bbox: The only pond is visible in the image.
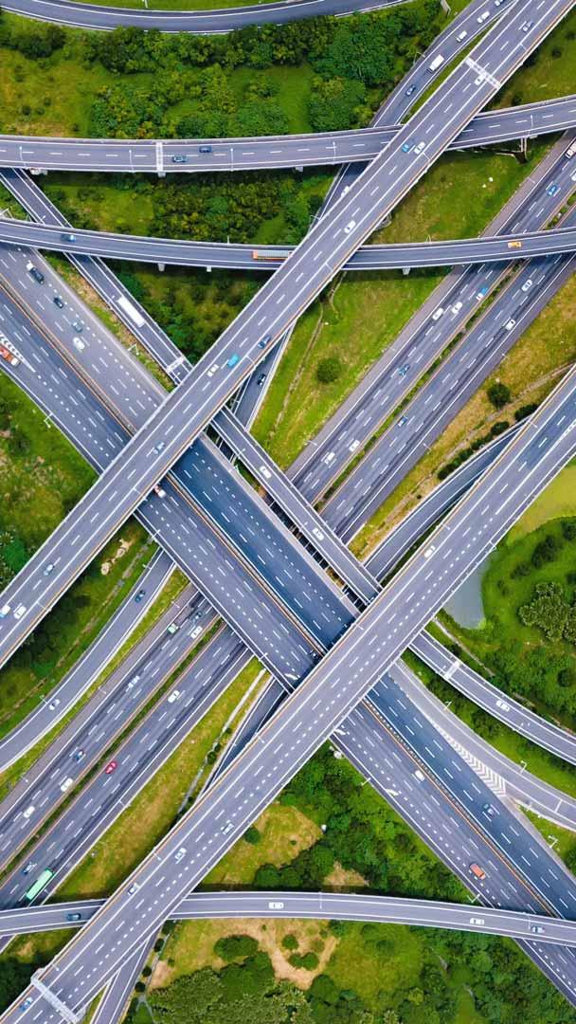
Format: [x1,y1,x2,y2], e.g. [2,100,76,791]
[440,552,490,629]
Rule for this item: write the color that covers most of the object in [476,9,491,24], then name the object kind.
white vehicle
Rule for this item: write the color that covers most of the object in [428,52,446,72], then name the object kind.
white vehicle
